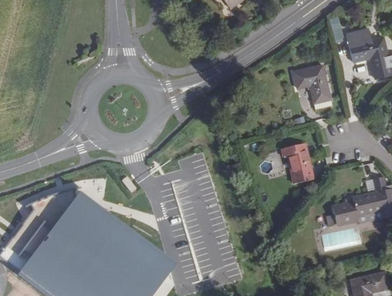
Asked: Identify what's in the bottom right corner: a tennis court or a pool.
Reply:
pool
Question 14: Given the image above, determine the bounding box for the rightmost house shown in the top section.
[346,28,392,80]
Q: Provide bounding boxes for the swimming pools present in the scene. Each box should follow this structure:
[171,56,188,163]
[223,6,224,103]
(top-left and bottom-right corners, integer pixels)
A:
[260,162,272,173]
[320,226,364,252]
